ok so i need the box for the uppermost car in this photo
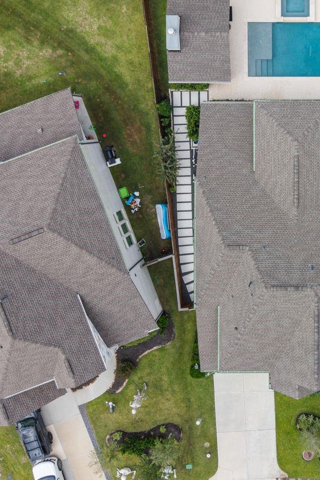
[12,408,56,465]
